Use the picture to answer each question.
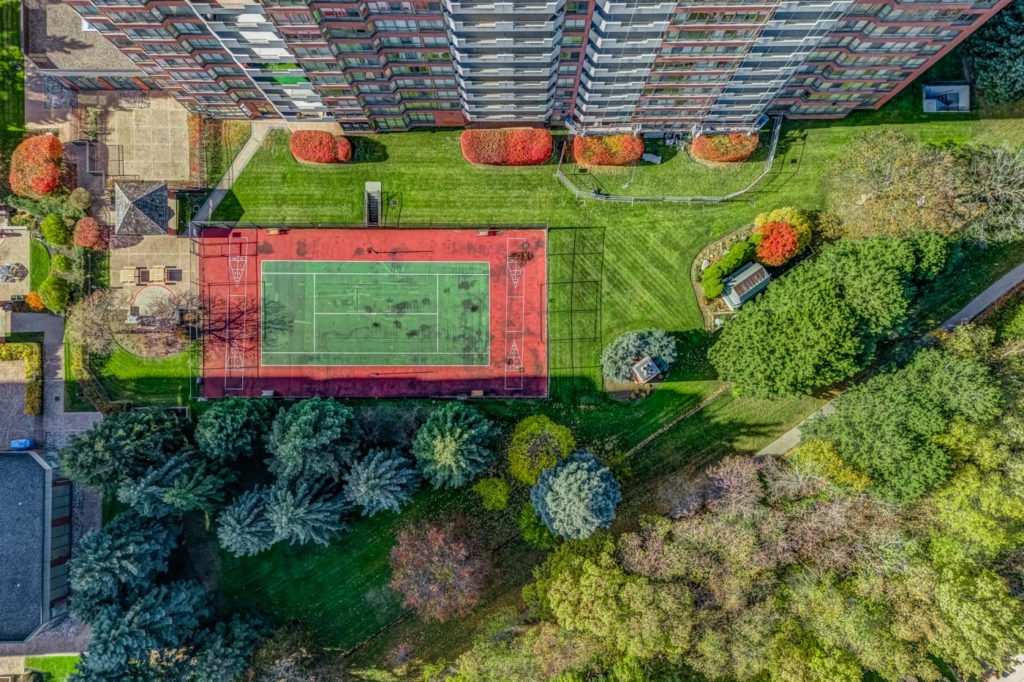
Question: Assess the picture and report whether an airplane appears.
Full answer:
No, I can see no airplane in this picture.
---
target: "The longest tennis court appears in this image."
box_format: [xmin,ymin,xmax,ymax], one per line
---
[197,227,547,399]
